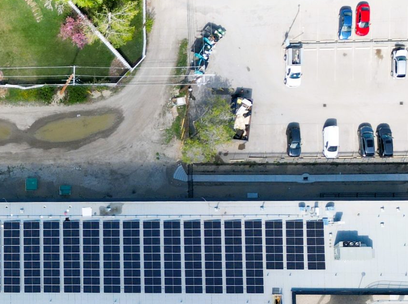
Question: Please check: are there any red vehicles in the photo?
Yes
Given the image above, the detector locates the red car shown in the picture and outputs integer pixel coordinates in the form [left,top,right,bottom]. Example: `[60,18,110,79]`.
[356,3,373,36]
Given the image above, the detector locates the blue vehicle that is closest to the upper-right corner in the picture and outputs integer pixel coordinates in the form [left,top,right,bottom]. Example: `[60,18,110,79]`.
[339,8,357,41]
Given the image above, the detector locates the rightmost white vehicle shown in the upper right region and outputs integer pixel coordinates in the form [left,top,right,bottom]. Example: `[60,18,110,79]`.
[391,47,408,80]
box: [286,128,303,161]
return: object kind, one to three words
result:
car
